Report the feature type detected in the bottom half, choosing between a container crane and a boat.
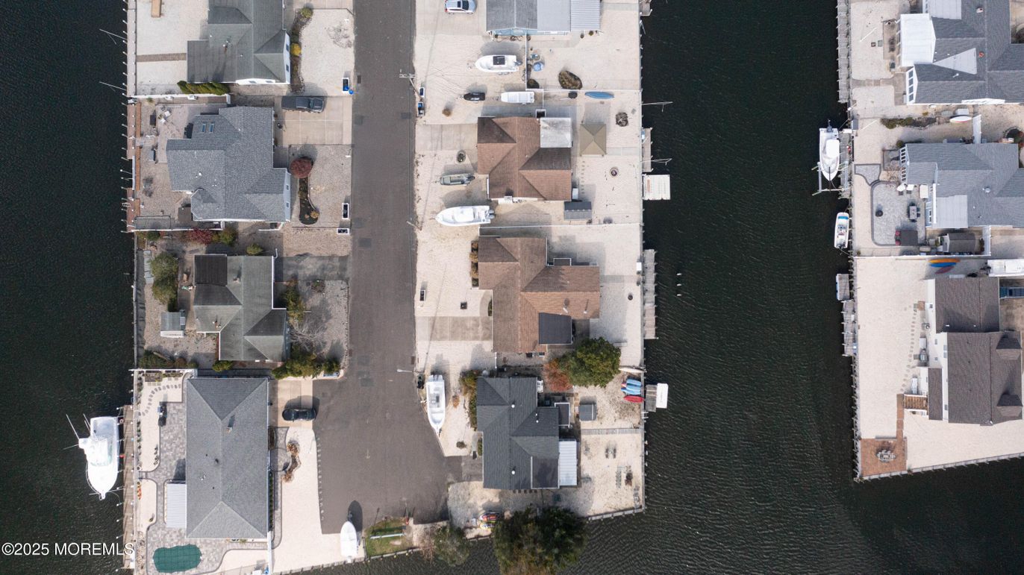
boat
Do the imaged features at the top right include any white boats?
Yes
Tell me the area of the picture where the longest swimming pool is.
bottom left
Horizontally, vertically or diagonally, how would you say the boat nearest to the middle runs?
horizontally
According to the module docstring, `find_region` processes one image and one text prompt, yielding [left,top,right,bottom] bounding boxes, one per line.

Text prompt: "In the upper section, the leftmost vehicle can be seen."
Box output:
[281,95,326,114]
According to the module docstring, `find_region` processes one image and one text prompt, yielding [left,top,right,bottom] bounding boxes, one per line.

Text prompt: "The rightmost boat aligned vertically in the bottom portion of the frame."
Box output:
[426,376,446,439]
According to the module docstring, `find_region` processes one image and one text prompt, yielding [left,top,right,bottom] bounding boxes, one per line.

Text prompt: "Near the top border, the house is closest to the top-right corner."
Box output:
[889,0,1024,107]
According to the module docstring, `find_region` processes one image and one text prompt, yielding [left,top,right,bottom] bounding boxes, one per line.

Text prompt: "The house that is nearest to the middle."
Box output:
[478,236,601,353]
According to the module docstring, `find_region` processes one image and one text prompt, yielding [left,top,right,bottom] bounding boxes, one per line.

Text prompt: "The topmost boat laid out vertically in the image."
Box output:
[818,121,840,193]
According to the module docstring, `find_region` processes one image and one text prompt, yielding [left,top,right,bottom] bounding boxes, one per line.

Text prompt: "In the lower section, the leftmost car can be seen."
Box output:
[284,406,317,422]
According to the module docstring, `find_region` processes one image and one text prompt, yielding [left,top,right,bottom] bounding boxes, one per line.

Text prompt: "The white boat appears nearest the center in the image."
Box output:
[435,205,495,227]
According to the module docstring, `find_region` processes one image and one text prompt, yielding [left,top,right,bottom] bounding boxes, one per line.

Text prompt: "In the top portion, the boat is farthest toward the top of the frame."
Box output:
[474,56,524,75]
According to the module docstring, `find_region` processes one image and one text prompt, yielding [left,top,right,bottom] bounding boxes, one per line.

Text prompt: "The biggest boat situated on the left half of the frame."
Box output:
[66,415,121,503]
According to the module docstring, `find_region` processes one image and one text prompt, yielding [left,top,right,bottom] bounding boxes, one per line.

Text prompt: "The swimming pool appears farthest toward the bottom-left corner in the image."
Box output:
[151,544,203,574]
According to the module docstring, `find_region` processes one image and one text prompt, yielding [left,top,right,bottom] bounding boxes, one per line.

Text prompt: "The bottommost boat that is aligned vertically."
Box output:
[341,521,358,564]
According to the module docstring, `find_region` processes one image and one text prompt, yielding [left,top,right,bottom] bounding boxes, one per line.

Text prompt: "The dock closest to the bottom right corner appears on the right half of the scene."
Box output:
[839,300,854,356]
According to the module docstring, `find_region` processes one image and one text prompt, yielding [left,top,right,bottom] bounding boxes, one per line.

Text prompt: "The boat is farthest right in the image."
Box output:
[982,257,1024,277]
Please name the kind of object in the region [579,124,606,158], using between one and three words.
gazebo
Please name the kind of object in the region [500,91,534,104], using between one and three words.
boat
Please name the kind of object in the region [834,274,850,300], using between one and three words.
pier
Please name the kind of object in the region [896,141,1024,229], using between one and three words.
house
